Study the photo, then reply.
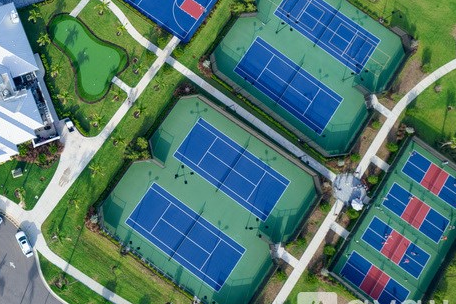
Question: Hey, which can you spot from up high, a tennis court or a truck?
tennis court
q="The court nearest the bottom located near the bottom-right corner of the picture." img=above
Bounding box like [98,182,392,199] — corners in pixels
[336,248,414,304]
